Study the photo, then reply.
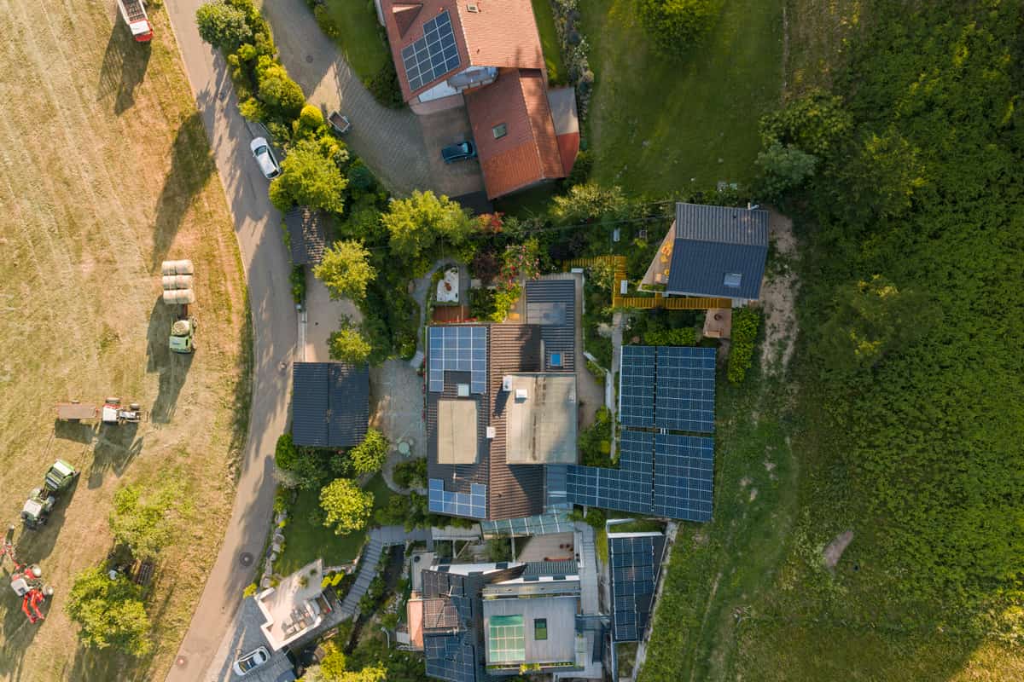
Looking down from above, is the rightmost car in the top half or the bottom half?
top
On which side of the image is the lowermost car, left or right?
left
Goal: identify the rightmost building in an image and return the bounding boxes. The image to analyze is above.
[638,198,769,308]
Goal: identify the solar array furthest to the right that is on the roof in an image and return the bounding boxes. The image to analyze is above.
[612,538,655,639]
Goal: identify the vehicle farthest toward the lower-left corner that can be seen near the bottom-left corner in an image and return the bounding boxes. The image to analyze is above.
[10,564,57,616]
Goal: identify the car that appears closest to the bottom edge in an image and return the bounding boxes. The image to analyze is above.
[232,646,272,677]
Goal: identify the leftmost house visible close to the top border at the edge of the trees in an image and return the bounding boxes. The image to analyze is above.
[376,0,579,201]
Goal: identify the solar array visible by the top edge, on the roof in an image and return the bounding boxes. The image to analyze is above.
[402,10,459,91]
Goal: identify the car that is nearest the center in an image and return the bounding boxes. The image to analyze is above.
[441,138,479,162]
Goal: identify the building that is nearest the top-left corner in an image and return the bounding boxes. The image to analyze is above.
[285,207,328,266]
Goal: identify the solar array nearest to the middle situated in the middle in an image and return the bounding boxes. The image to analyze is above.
[428,328,485,393]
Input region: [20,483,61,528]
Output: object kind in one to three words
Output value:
work vehicle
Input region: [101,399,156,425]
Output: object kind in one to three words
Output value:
work vehicle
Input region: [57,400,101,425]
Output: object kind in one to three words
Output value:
trailer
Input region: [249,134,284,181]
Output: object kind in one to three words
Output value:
car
